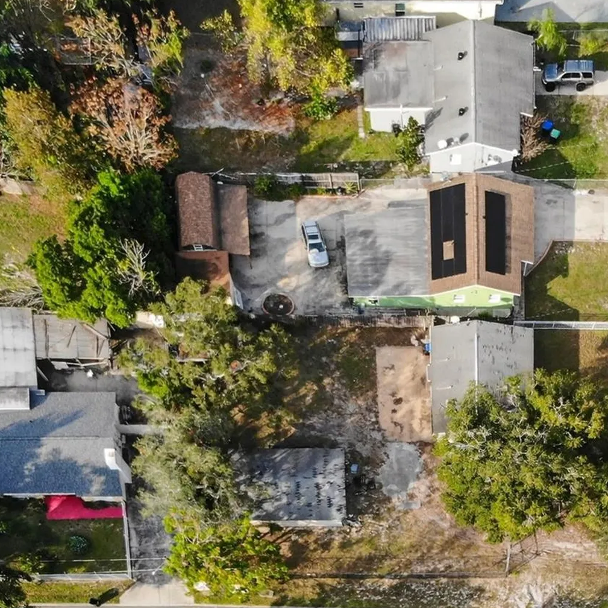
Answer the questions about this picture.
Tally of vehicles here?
2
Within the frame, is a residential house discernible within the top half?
Yes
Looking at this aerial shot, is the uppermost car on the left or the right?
right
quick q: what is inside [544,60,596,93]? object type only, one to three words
car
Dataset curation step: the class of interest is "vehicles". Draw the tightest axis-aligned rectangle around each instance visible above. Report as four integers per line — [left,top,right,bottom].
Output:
[544,60,596,93]
[301,217,330,271]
